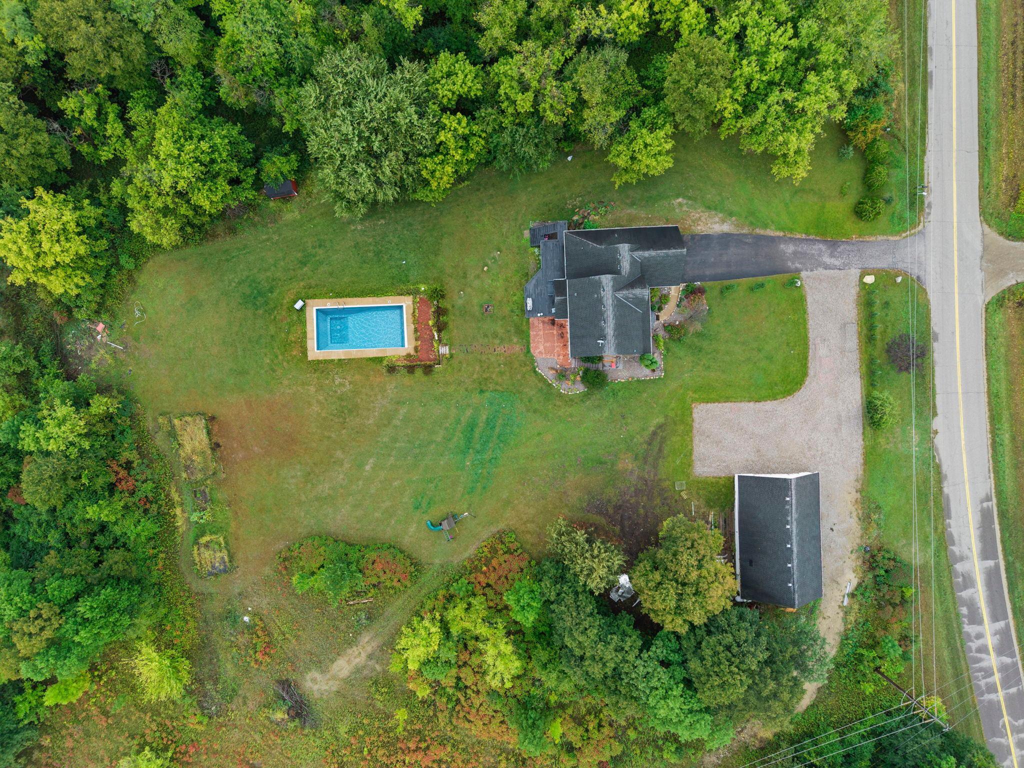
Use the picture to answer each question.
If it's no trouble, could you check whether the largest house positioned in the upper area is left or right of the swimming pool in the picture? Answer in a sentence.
Relative to the swimming pool, the largest house positioned in the upper area lies to the right.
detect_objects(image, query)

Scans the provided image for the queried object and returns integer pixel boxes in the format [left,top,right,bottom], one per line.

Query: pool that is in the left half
[305,296,415,360]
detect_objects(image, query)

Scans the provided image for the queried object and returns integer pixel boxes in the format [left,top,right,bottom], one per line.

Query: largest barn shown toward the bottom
[734,472,824,608]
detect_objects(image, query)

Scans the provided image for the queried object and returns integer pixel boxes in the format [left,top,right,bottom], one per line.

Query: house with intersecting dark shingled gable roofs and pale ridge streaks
[554,225,686,358]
